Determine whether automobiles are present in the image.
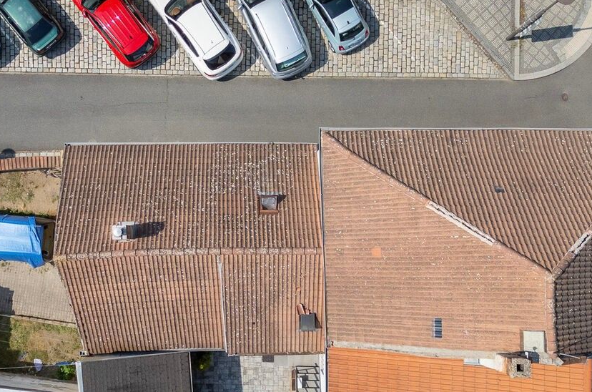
Yes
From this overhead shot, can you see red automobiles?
Yes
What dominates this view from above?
buildings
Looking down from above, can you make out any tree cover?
No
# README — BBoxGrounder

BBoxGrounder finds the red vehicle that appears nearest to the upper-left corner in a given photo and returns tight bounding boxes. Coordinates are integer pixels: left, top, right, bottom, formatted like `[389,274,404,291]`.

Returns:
[71,0,159,70]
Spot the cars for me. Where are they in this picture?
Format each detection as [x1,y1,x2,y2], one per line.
[0,0,65,58]
[71,0,159,70]
[231,0,313,80]
[302,0,371,55]
[149,0,244,80]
